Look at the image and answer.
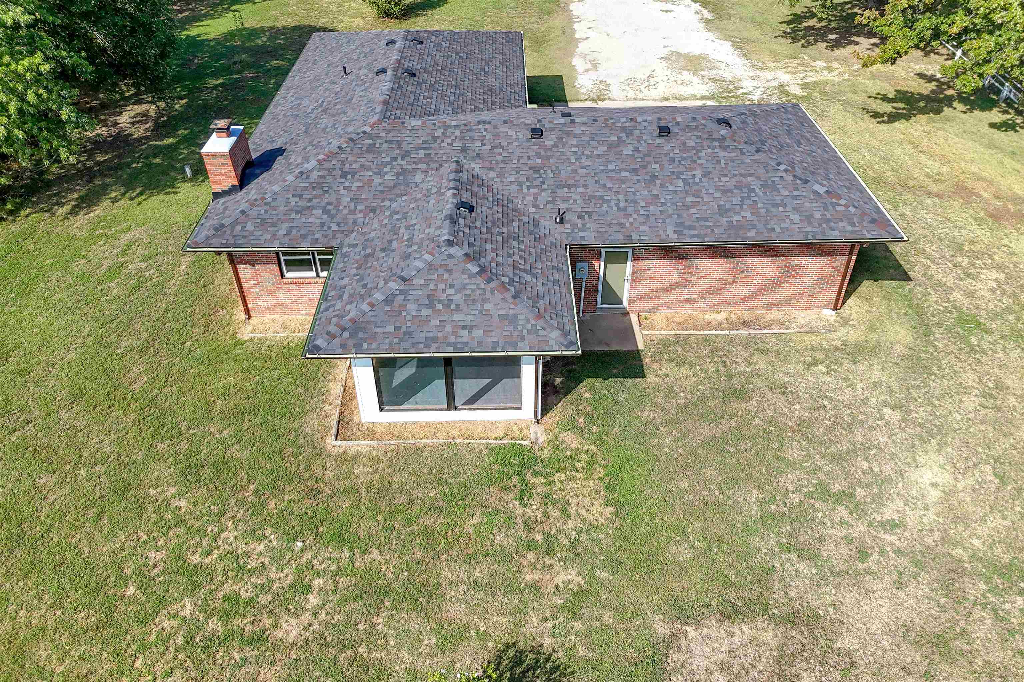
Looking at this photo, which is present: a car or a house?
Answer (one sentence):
This aerial view contains a house.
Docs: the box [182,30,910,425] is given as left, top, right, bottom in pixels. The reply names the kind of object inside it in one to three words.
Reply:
house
